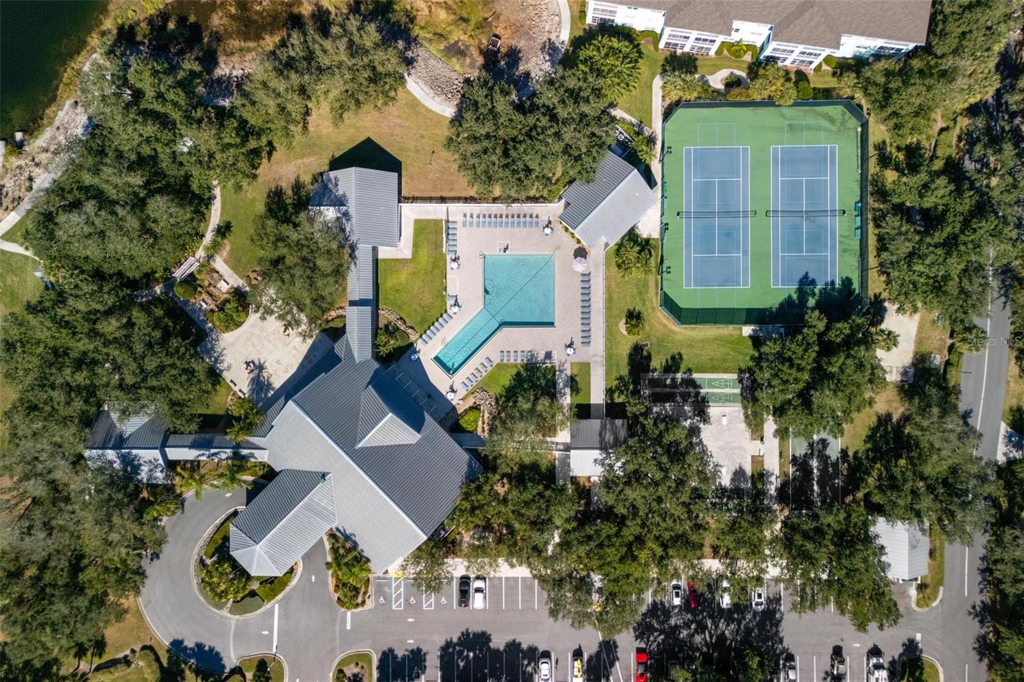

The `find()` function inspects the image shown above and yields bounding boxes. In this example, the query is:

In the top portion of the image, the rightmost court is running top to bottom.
[760,106,860,325]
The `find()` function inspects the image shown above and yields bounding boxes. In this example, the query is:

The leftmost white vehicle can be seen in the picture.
[472,577,486,607]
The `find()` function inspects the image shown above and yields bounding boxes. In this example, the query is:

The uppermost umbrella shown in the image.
[571,254,586,269]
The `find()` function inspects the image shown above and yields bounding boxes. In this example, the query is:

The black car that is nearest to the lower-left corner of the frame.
[457,577,471,607]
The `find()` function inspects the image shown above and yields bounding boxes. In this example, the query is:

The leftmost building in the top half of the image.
[308,166,398,248]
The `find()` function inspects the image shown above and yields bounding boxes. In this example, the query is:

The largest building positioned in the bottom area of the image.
[230,334,483,575]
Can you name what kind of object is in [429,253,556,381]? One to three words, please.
swimming pool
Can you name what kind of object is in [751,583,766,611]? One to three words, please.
car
